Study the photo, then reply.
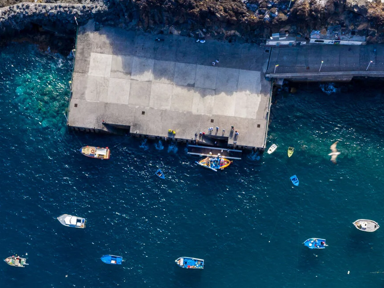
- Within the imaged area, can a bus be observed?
No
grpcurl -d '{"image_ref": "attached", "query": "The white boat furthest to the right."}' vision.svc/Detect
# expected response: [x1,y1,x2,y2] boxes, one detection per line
[353,218,383,231]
